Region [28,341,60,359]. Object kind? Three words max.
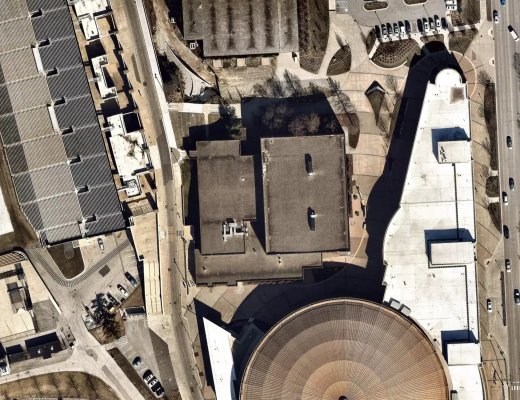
shed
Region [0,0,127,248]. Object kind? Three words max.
building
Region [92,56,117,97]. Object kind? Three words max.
house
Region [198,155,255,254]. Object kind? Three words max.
building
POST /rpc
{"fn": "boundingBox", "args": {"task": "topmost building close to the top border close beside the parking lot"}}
[183,0,299,56]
